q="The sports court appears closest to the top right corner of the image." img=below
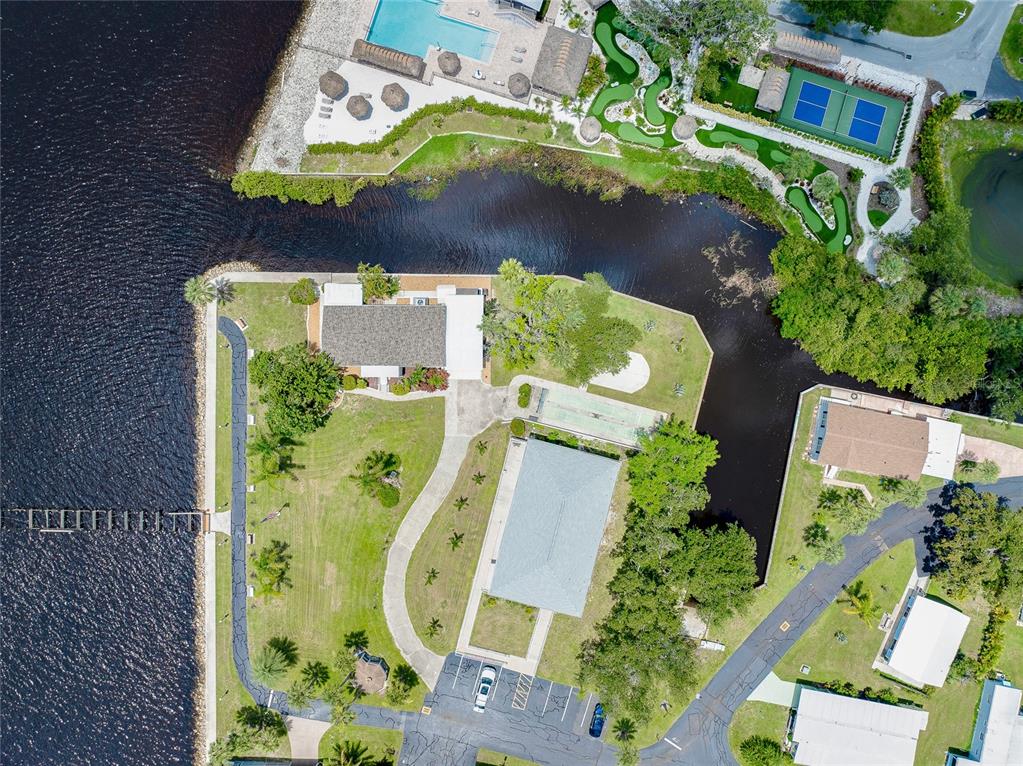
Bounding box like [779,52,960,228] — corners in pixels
[776,66,904,158]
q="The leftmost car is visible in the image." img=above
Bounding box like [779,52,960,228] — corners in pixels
[472,664,497,714]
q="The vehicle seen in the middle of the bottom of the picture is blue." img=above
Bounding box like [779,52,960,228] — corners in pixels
[586,701,608,739]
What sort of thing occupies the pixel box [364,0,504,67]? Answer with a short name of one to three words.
swimming pool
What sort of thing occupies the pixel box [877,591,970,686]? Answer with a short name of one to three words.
house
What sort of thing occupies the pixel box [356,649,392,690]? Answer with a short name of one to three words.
gazebo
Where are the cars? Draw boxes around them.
[586,701,608,739]
[472,664,497,714]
